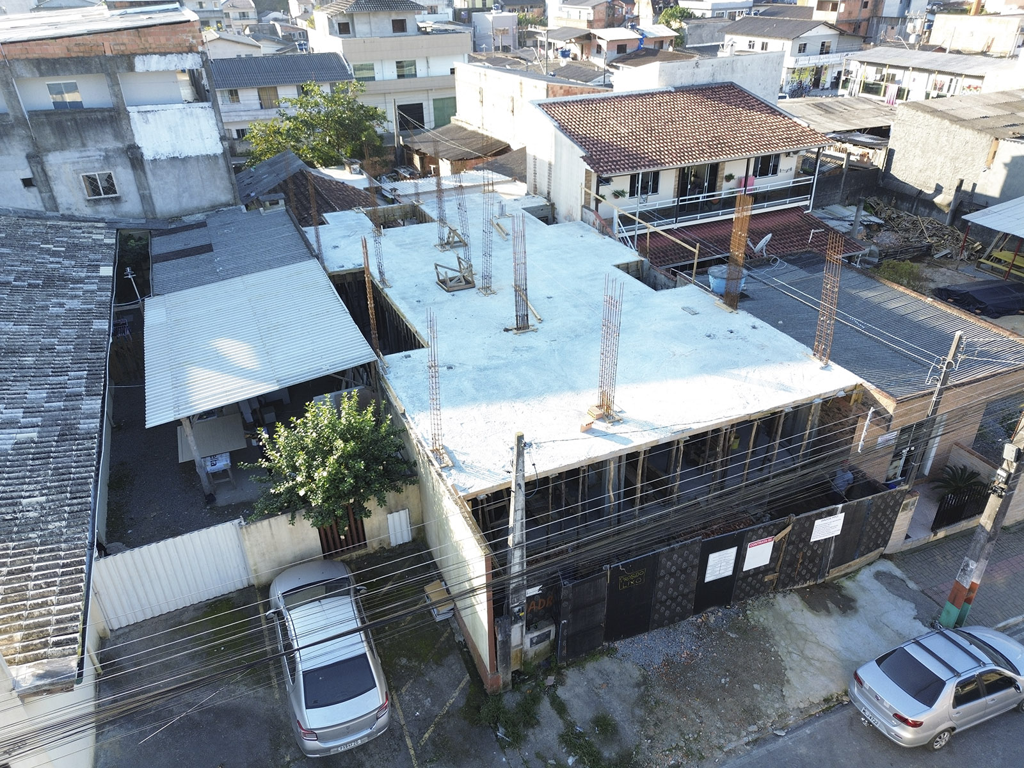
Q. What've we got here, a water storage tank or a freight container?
water storage tank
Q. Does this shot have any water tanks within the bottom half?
No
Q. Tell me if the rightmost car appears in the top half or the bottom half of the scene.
bottom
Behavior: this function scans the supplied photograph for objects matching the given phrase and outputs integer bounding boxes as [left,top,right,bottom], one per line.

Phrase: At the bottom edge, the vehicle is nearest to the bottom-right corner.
[854,611,1024,747]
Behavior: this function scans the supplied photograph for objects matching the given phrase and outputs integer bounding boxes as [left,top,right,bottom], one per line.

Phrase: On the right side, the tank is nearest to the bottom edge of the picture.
[712,274,746,306]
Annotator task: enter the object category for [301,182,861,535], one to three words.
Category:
building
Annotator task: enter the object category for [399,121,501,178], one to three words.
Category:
shed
